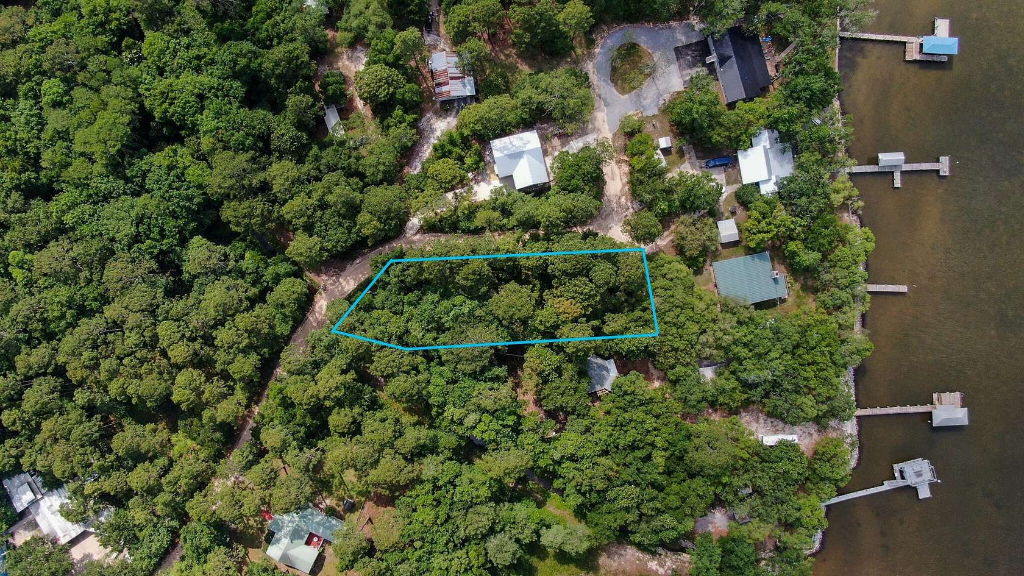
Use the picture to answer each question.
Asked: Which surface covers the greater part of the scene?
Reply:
trees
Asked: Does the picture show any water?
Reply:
Yes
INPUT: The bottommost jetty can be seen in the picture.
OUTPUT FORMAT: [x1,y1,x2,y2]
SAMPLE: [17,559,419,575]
[820,455,938,506]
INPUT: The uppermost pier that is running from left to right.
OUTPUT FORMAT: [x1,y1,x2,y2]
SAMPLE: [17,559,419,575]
[839,19,958,63]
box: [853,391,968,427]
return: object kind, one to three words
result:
pier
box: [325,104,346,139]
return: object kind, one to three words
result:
shed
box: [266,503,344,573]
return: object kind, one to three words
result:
building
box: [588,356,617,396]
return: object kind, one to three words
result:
house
